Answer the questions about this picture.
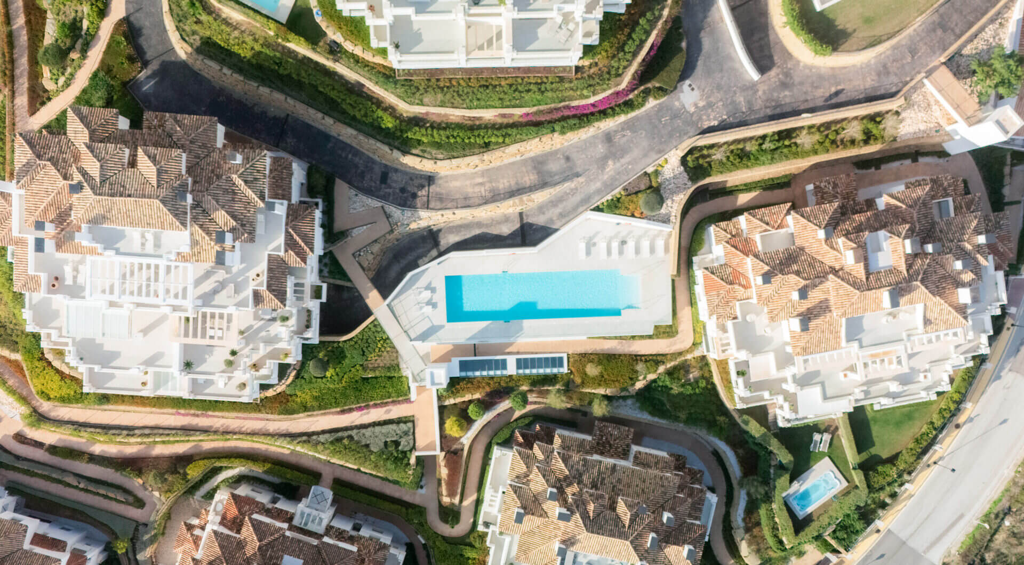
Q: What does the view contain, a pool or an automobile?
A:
pool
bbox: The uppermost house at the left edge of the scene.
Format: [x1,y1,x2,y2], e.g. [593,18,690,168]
[0,105,331,403]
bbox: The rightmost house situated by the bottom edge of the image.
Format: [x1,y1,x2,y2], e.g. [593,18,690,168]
[476,417,717,565]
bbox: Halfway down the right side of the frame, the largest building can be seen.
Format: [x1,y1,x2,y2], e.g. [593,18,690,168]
[689,166,1021,428]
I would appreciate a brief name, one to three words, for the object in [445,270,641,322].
swimming pool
